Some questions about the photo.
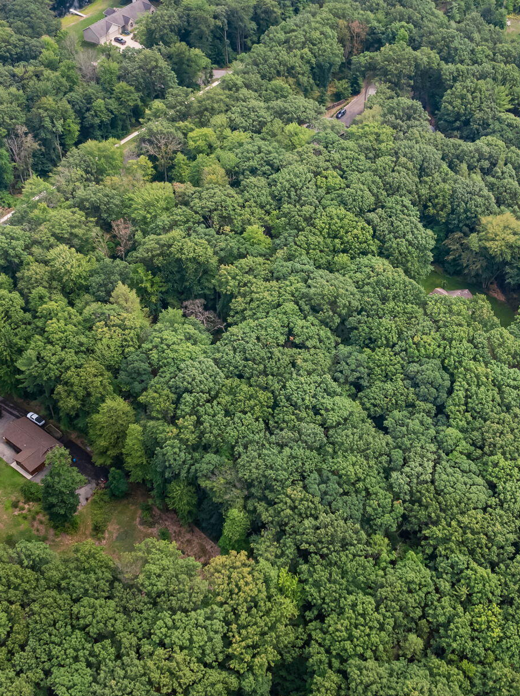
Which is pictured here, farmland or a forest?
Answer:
forest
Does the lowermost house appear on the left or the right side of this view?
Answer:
left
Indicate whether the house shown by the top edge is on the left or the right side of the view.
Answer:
left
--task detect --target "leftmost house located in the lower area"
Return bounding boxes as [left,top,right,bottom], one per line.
[1,418,63,481]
